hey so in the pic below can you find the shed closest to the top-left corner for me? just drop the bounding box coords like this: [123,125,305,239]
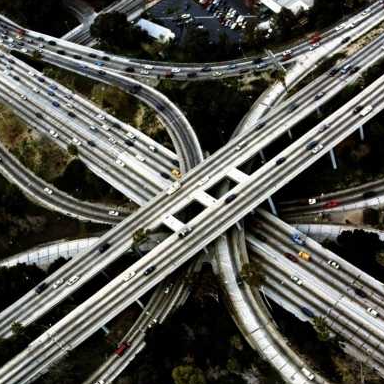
[135,25,176,46]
